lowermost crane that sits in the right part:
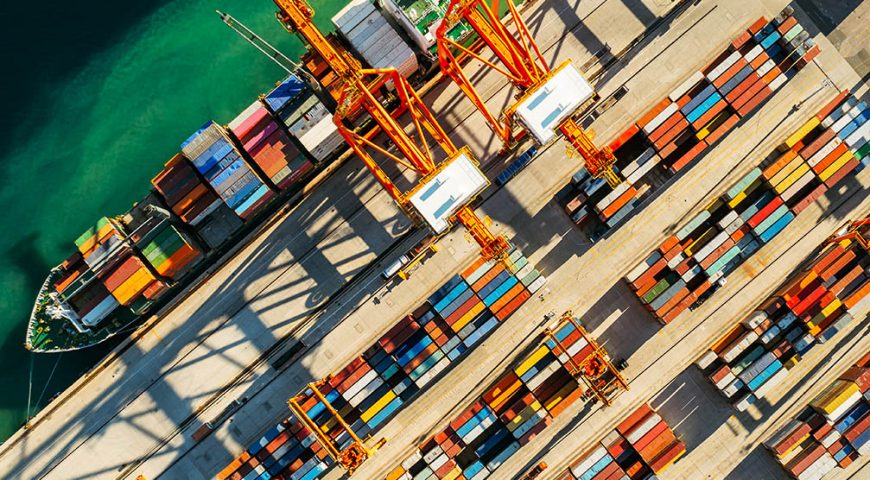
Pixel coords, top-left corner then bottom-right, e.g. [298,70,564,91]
[535,313,636,408]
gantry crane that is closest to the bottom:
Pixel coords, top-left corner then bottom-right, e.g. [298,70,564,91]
[286,373,399,477]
